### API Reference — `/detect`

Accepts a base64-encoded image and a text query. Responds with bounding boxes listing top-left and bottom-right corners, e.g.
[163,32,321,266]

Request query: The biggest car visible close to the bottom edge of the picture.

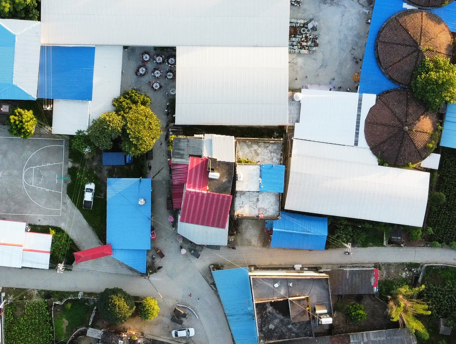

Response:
[172,327,195,340]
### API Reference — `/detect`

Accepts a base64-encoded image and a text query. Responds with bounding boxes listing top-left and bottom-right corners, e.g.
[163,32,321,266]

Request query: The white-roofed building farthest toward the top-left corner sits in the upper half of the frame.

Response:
[0,19,40,100]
